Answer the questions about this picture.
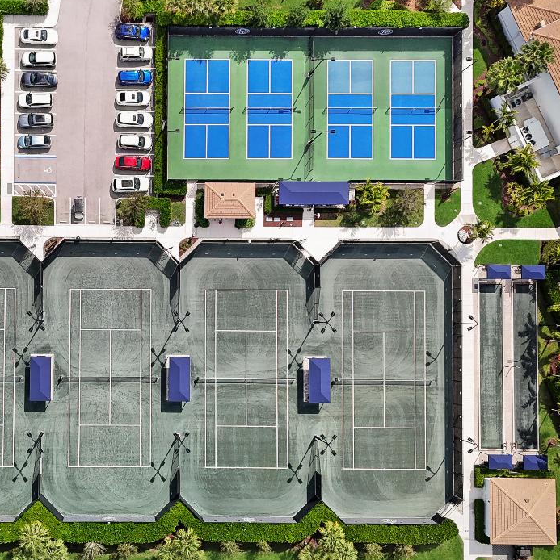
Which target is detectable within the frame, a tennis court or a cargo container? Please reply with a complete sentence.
Of the two, only a tennis court appears.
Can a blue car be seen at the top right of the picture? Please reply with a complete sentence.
No, no blue car appears at the top right of the picture.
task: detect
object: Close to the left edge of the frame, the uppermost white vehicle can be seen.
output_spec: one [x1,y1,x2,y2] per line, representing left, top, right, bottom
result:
[20,25,57,43]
